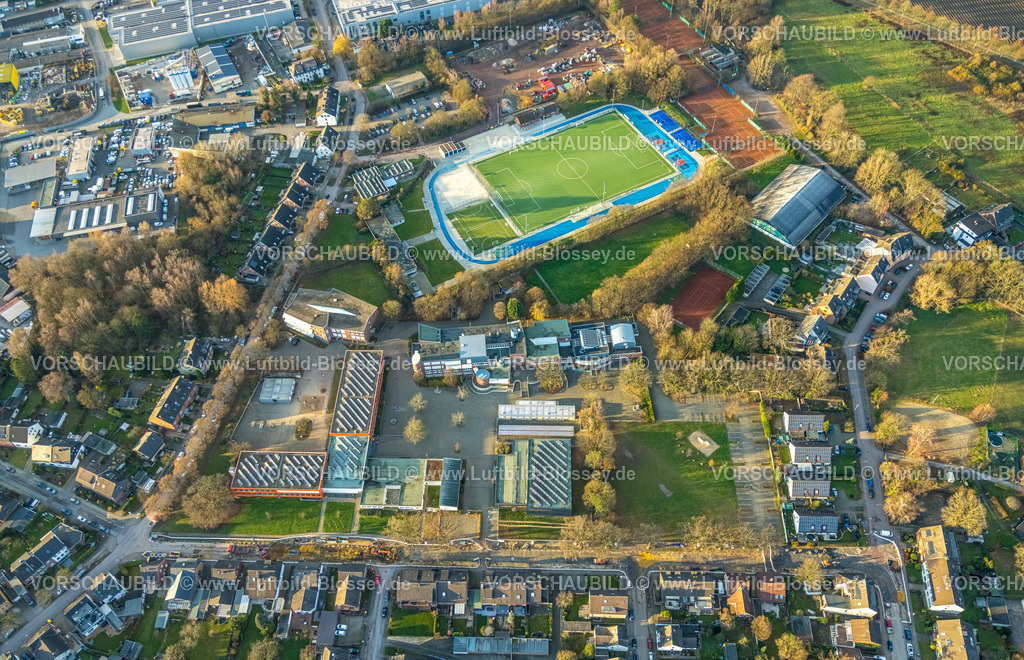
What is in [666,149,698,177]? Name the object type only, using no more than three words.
basketball court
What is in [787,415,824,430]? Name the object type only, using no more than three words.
solar array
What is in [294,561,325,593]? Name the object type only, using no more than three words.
house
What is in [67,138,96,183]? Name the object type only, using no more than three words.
building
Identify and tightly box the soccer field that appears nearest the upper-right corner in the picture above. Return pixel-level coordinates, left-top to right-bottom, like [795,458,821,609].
[472,111,675,235]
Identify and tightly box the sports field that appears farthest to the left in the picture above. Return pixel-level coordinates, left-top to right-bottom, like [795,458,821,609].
[446,199,519,255]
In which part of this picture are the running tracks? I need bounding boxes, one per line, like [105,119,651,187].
[428,103,690,265]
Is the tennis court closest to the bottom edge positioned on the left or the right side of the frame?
right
